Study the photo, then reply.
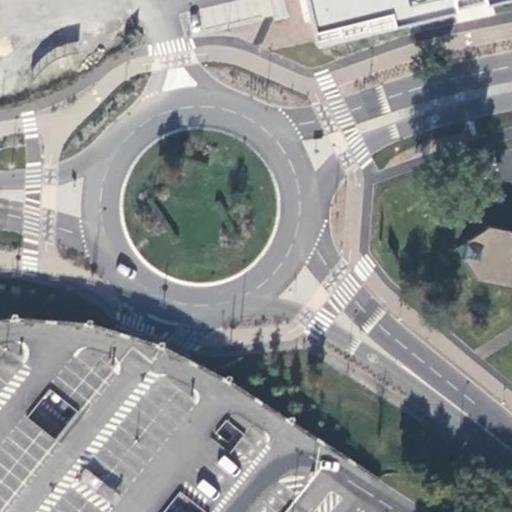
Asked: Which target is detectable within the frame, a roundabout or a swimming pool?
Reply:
roundabout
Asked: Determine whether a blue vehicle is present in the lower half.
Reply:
No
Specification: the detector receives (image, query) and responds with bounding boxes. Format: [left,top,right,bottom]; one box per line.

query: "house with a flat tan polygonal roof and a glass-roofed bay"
[453,228,512,288]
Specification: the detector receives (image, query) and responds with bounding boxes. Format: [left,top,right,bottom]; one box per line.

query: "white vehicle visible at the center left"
[117,262,137,280]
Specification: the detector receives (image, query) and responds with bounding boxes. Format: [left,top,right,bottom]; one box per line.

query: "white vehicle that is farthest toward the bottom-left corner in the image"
[196,480,219,499]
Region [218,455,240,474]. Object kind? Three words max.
vehicle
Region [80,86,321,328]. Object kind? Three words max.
roundabout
